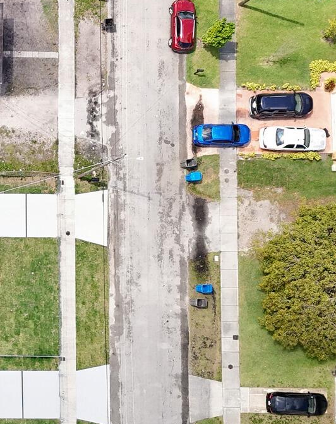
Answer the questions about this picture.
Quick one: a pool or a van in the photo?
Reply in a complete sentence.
This aerial view contains a van.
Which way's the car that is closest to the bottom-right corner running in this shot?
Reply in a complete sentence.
In this picture, the car that is closest to the bottom-right corner is oriented from side to side.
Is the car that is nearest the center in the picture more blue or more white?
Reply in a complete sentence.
The color of the car that is nearest the center is blue.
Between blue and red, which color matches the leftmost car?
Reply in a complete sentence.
From above, the leftmost car appears red.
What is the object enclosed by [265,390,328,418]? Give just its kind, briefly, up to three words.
car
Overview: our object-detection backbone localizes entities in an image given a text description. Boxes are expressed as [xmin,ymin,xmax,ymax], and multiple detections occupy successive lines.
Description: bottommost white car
[259,124,328,154]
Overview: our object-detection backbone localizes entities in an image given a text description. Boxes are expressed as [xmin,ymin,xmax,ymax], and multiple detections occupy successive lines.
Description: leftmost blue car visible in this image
[193,122,252,149]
